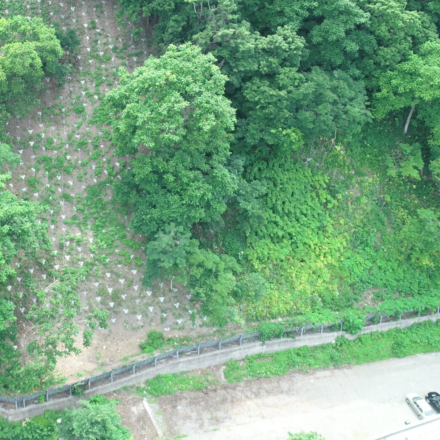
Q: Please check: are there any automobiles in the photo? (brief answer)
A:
Yes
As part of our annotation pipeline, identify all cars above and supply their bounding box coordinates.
[405,391,437,422]
[426,391,440,412]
